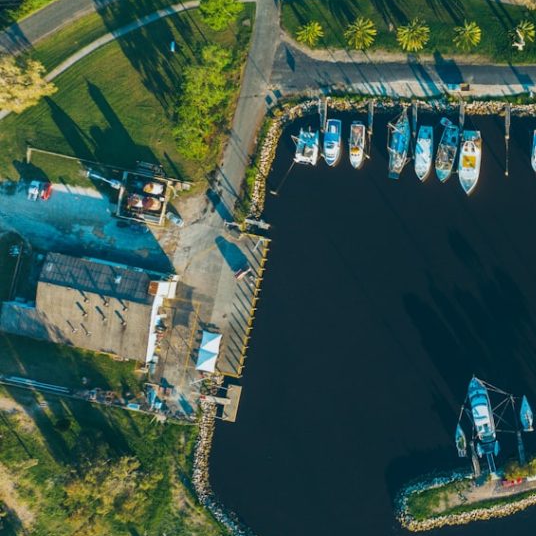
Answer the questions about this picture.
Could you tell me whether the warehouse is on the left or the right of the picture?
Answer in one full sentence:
The warehouse appears in the left half of the scene.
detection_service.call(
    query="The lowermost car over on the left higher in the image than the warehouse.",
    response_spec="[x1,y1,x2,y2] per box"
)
[167,210,182,228]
